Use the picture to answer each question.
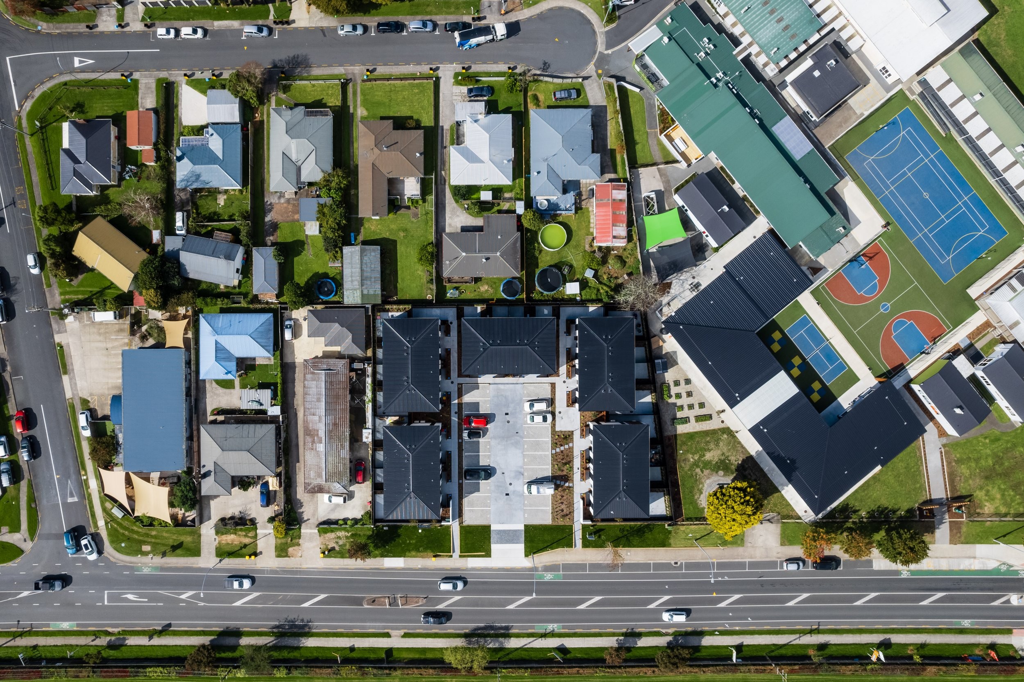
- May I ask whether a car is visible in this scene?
Yes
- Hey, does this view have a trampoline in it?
Yes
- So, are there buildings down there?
Yes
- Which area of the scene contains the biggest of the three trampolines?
center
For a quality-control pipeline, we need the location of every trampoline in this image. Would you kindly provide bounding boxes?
[314,278,336,299]
[535,266,563,293]
[500,278,521,299]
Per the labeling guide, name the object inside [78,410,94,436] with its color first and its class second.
white car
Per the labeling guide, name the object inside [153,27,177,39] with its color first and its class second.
white vehicle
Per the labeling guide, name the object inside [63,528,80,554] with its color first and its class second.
blue car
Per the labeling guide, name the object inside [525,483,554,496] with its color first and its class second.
white vehicle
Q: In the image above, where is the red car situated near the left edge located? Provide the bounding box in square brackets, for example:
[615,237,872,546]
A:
[15,410,31,433]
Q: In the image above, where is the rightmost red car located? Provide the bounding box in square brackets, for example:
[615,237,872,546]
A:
[463,416,488,428]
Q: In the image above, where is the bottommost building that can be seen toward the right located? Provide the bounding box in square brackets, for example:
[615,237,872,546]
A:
[590,421,650,519]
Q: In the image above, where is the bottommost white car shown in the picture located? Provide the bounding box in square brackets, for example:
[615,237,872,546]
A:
[662,609,687,623]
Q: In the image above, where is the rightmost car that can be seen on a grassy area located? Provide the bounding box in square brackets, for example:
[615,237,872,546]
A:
[552,87,577,102]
